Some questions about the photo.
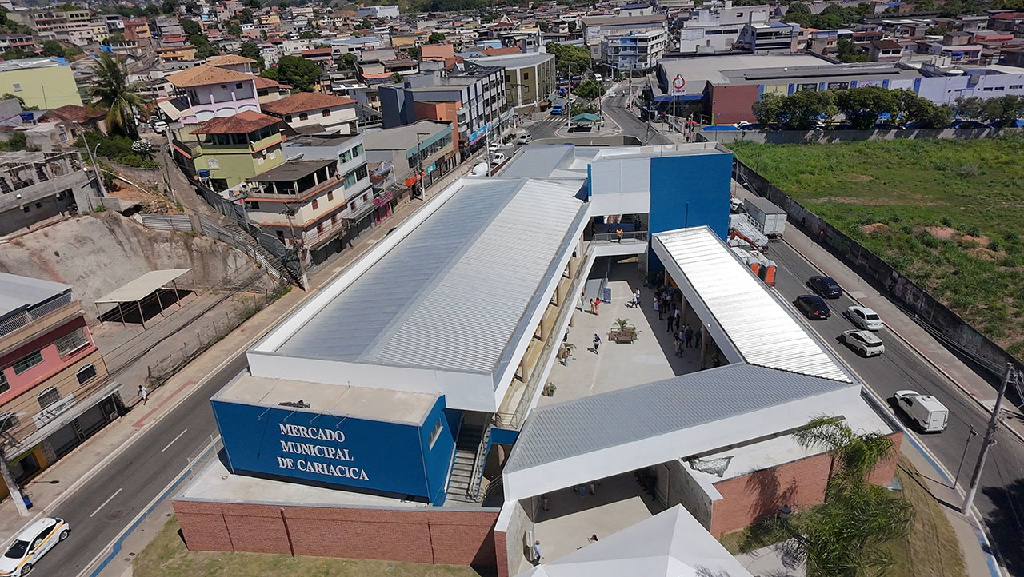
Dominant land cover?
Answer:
buildings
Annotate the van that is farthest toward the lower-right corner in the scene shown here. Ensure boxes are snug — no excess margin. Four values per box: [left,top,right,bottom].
[891,391,962,438]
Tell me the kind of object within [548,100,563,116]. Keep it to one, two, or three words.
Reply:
vehicle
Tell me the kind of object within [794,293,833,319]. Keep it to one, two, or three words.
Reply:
car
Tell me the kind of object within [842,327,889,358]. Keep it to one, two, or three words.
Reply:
car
